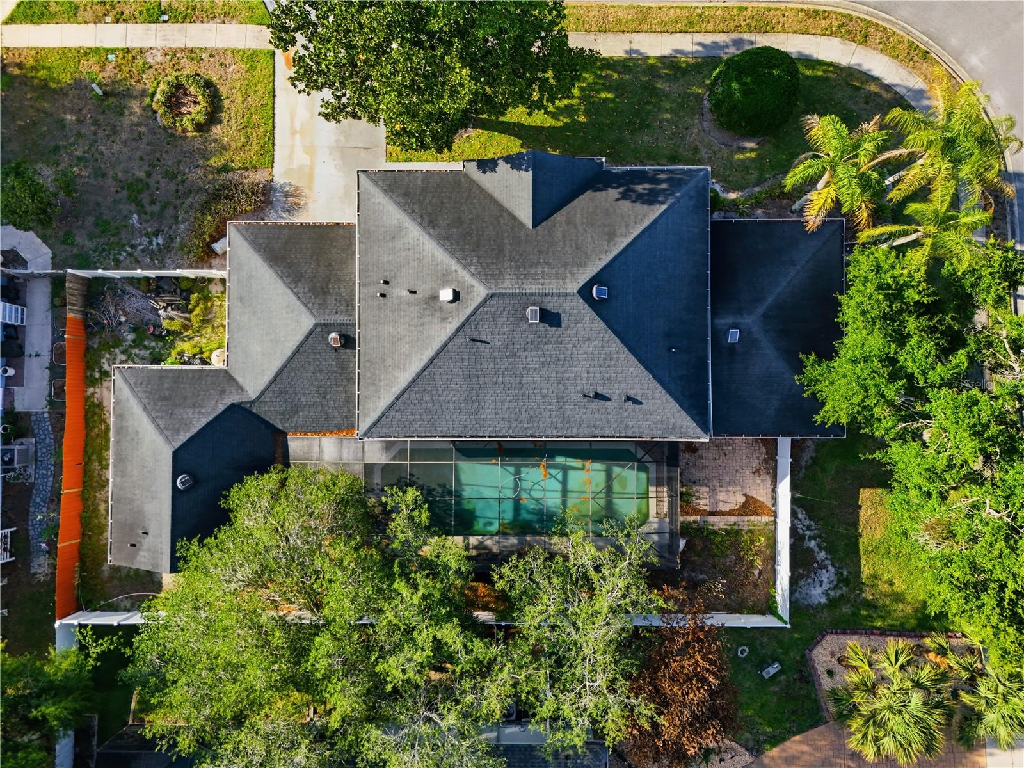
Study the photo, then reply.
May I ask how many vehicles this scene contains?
0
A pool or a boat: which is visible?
pool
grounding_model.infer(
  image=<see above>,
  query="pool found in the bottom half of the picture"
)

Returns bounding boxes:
[374,442,656,542]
